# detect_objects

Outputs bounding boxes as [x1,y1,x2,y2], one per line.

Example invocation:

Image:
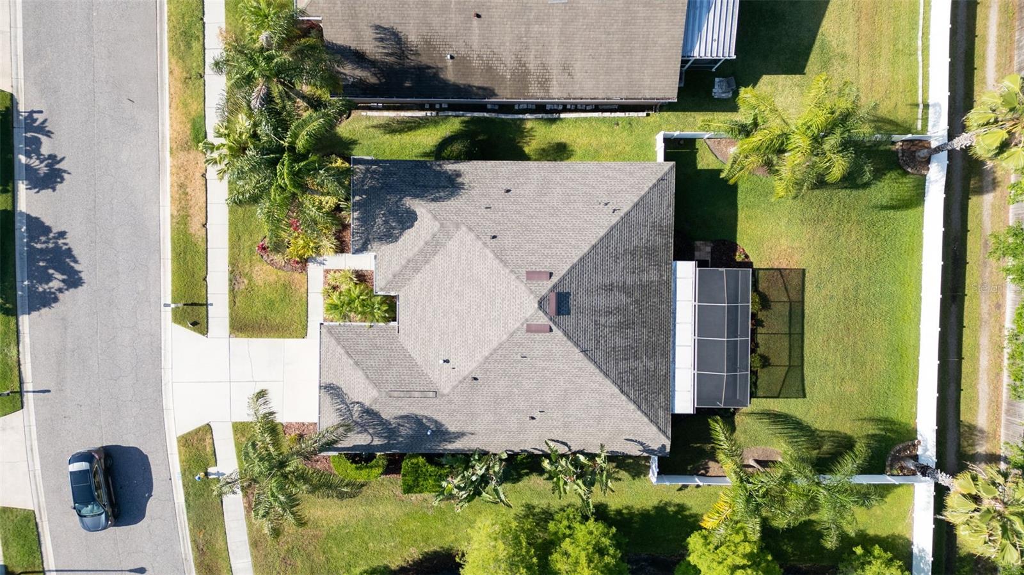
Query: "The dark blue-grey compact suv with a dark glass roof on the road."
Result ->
[69,443,123,529]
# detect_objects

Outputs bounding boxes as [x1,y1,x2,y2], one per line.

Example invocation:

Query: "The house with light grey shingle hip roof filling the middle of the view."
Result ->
[317,158,675,456]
